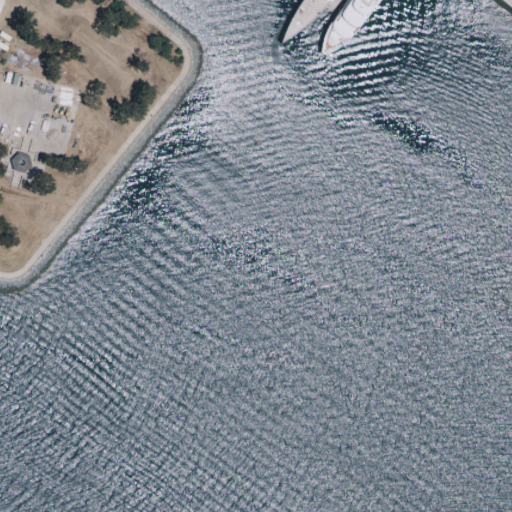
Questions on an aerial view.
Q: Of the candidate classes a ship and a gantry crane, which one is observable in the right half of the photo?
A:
ship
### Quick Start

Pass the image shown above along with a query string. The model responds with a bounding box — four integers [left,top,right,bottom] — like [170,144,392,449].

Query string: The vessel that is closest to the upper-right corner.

[320,0,380,54]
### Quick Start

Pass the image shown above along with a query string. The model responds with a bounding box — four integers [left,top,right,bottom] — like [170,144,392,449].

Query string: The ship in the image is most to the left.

[282,0,336,42]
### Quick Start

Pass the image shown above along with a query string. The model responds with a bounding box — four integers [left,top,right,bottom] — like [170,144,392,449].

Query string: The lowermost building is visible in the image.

[12,152,32,172]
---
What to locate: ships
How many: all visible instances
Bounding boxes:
[320,0,380,54]
[282,0,336,42]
